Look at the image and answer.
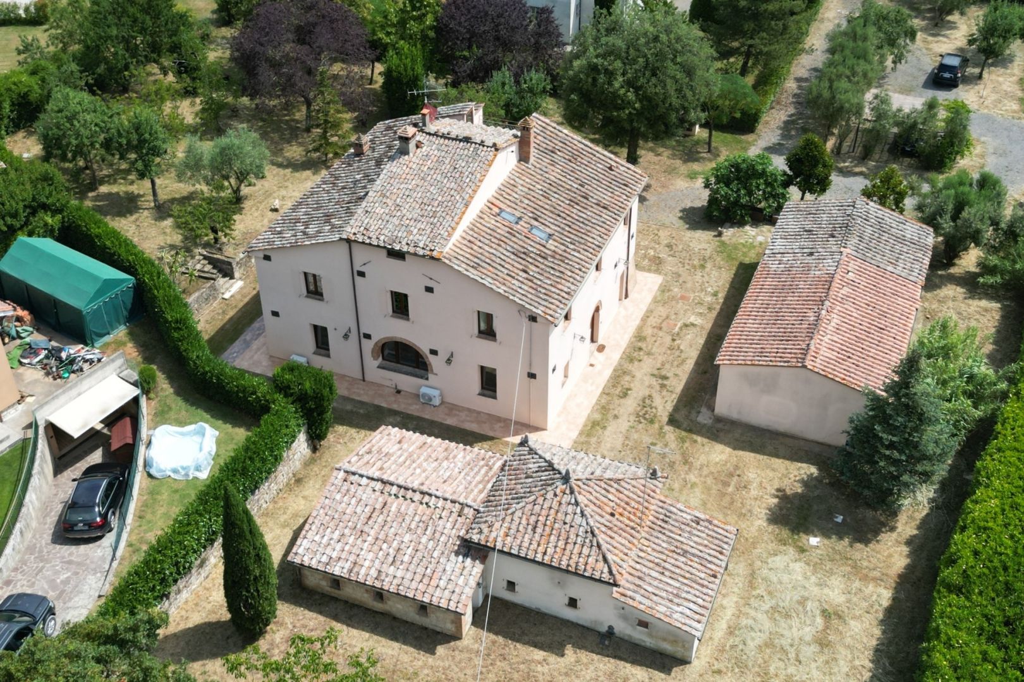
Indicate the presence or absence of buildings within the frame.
Yes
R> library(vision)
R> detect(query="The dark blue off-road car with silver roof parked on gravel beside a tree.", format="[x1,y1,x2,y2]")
[930,52,964,91]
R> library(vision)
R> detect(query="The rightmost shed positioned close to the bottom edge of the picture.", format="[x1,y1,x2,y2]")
[467,434,743,661]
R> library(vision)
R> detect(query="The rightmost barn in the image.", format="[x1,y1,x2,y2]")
[695,193,936,447]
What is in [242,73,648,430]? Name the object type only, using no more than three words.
house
